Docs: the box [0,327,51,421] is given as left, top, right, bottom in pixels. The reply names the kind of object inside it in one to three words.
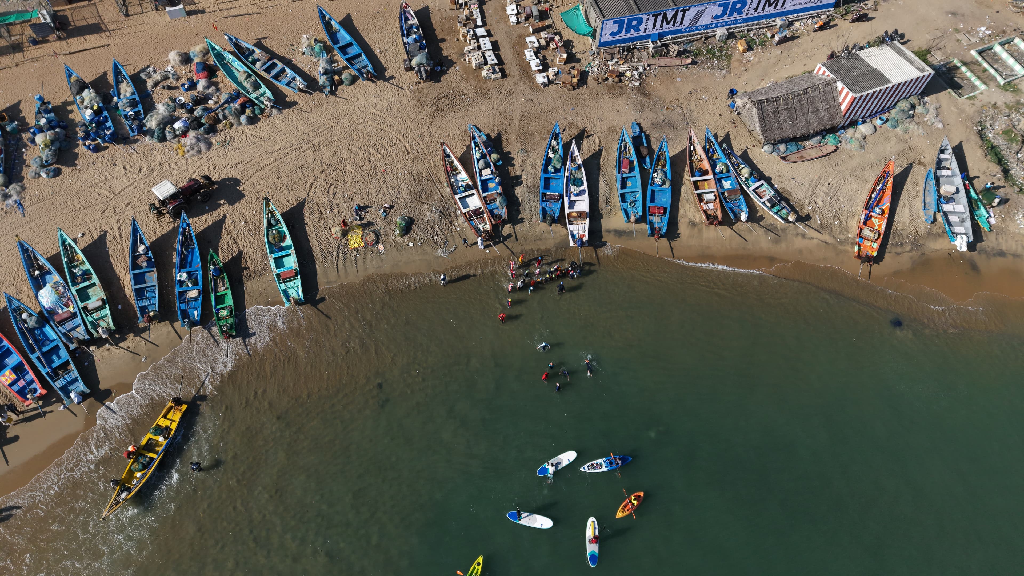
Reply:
boat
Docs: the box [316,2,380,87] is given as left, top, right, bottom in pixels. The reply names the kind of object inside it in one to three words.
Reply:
boat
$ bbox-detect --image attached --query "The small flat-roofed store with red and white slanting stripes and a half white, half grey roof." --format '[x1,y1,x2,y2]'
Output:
[820,36,938,120]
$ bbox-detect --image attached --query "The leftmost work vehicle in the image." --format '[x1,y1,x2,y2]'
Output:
[150,184,212,224]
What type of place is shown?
beach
